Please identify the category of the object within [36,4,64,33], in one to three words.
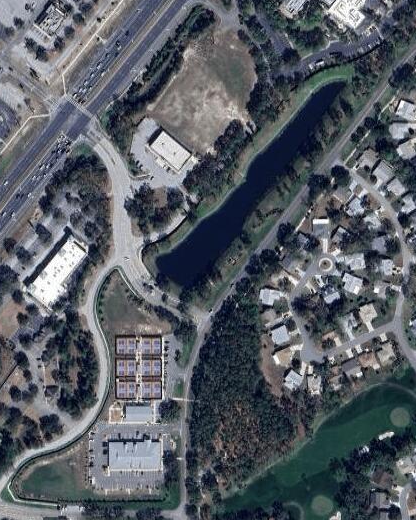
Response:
building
